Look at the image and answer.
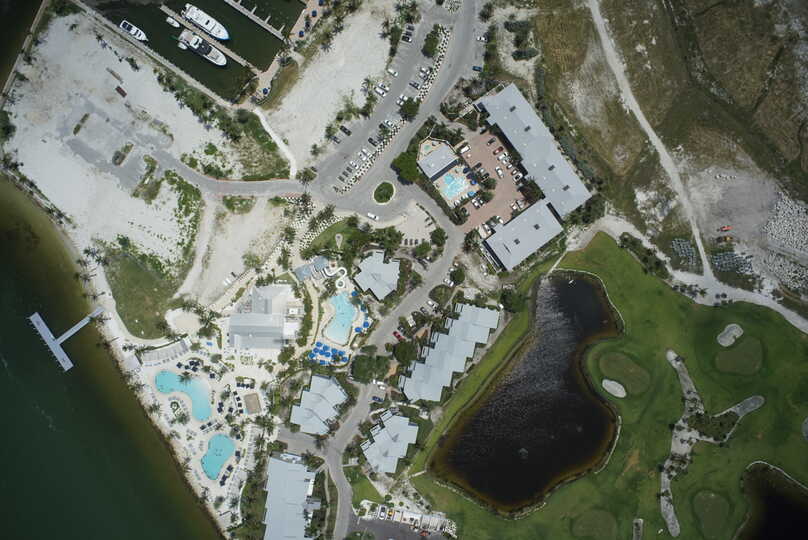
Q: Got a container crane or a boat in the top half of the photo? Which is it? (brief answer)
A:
boat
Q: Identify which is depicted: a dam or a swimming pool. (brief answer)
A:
swimming pool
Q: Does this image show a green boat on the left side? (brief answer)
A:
No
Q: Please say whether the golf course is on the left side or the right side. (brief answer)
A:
right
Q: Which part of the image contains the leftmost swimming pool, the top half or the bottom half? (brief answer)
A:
bottom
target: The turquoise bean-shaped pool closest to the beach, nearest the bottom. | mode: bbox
[199,433,238,482]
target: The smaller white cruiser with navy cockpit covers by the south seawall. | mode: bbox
[120,19,148,40]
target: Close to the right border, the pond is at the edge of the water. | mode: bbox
[733,465,808,540]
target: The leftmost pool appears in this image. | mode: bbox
[153,369,214,423]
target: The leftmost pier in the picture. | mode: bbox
[26,306,103,373]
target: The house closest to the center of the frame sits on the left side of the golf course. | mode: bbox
[354,252,400,301]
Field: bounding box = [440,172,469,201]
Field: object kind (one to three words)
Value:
swimming pool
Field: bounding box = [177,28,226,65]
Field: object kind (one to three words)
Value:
boat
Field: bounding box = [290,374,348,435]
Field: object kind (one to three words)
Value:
house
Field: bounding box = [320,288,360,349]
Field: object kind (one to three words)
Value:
swimming pool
